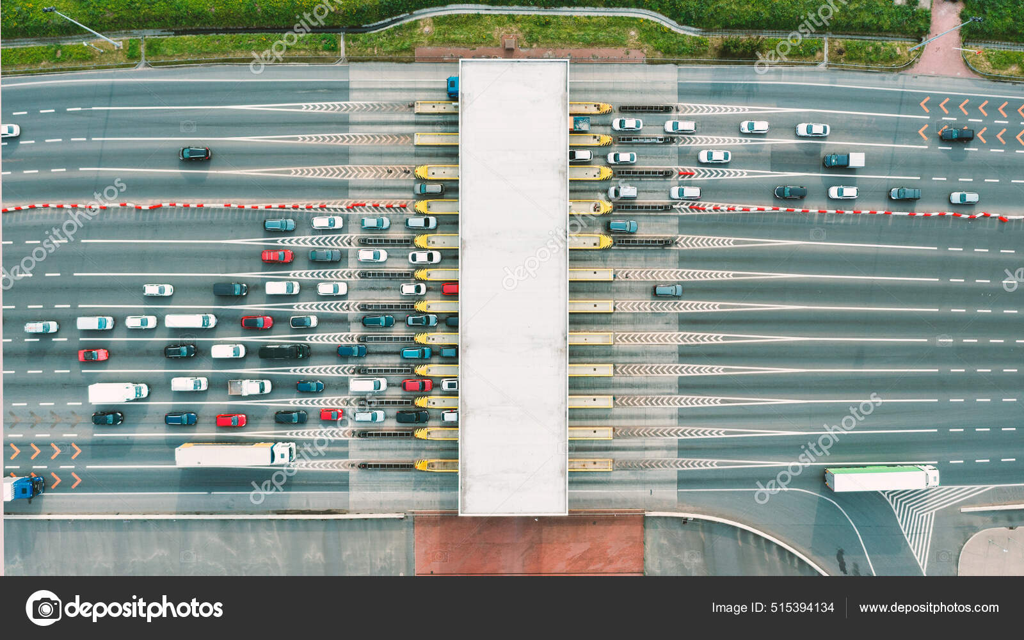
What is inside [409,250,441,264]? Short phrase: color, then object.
white car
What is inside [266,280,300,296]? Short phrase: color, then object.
white vehicle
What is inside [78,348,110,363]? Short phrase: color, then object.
red car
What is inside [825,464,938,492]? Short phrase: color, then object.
white truck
